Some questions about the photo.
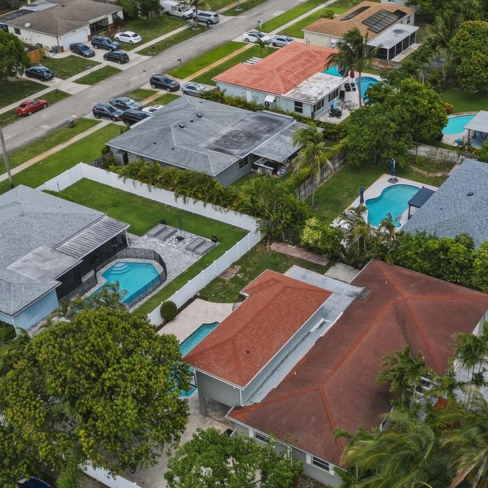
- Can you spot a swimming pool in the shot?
Yes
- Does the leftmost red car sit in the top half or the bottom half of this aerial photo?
top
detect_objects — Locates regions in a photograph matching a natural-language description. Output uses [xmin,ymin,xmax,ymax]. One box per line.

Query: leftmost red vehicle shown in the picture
[11,100,52,120]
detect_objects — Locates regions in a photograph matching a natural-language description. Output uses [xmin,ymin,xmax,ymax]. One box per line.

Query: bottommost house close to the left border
[0,184,134,335]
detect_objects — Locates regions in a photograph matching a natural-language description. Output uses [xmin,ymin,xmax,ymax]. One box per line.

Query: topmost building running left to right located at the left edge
[0,0,131,53]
